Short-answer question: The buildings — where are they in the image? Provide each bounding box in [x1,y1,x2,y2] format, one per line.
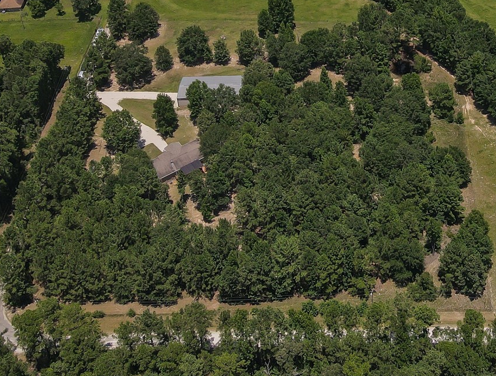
[150,142,208,186]
[177,75,245,110]
[0,0,23,17]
